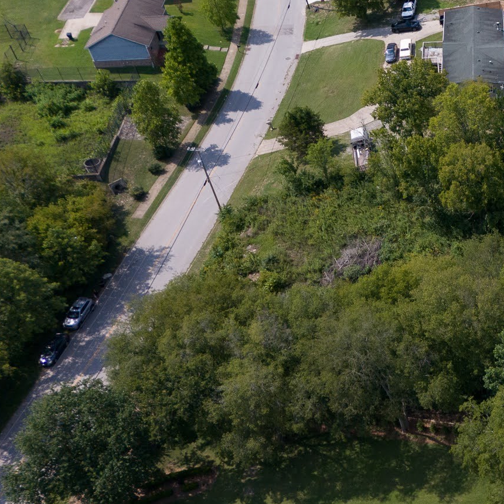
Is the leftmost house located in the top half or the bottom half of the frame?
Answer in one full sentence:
The top half of the photo is where the leftmost house is.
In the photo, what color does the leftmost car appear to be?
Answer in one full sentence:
In this view, the leftmost car is black.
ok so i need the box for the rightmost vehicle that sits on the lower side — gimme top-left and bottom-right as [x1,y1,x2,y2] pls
[57,294,100,332]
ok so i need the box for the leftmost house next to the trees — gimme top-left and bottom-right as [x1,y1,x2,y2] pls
[80,0,177,70]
